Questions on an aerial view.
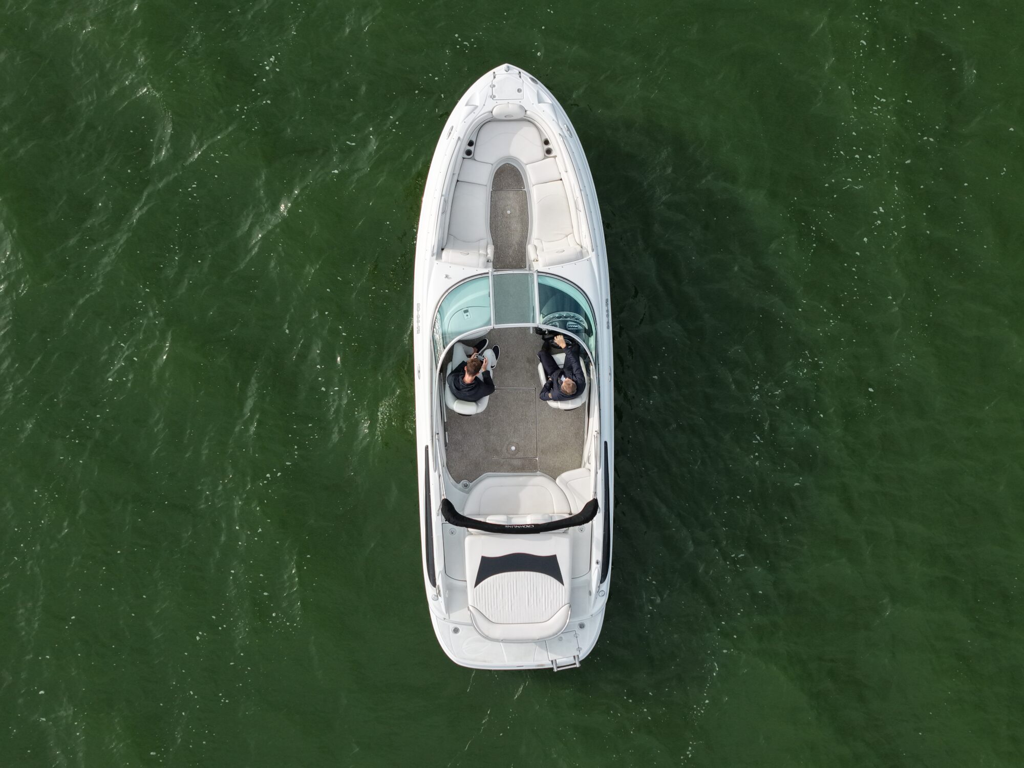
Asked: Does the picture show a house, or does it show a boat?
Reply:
boat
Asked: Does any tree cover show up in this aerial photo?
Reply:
No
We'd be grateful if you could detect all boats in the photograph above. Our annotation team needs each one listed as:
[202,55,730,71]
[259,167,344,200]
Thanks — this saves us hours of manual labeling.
[412,63,616,672]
